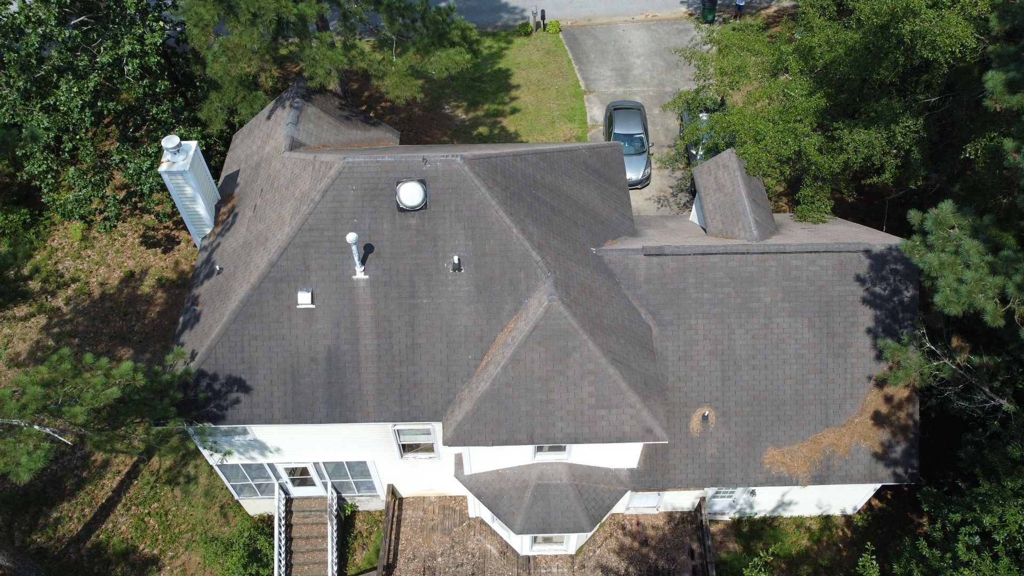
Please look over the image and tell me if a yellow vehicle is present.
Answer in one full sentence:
No, I find no yellow vehicle anywhere in the image.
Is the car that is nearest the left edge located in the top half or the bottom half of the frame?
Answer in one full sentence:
You can find the car that is nearest the left edge in the top half.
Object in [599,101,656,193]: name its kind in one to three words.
car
